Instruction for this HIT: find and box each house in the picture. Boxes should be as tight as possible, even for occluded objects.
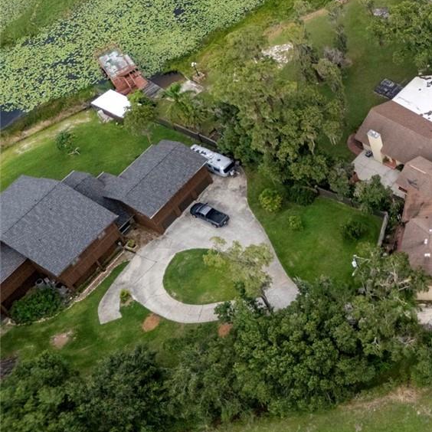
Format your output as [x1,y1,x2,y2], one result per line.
[0,141,214,315]
[355,74,432,296]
